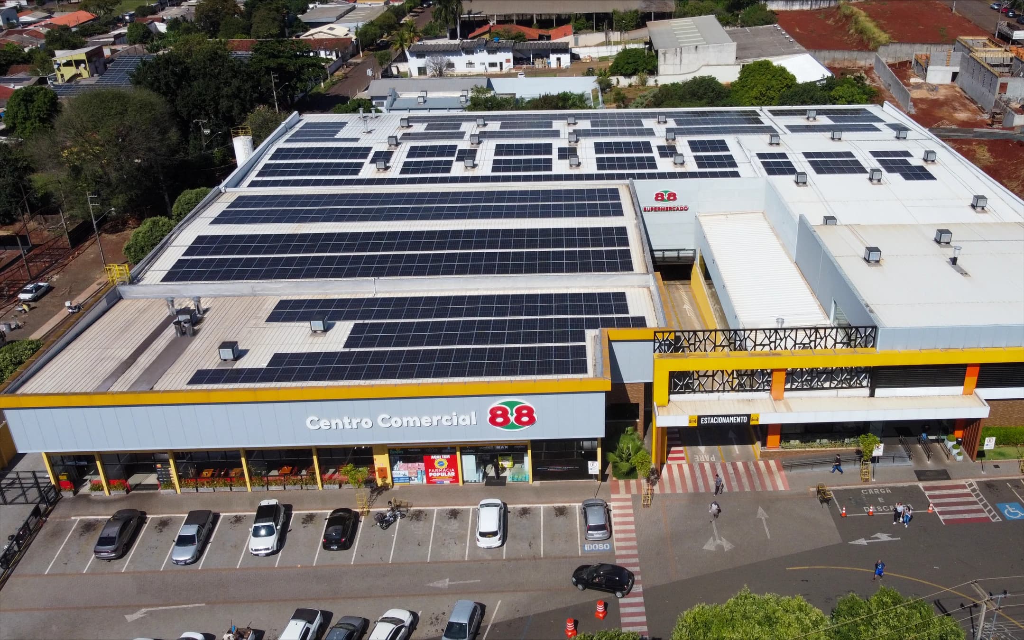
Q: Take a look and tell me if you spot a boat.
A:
No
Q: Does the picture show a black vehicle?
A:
Yes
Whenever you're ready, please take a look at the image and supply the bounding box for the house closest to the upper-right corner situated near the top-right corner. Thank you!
[911,36,1024,116]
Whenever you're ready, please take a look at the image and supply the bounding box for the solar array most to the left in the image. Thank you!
[54,56,255,99]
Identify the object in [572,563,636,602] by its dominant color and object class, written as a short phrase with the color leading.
black car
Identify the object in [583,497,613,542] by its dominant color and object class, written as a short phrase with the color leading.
gray car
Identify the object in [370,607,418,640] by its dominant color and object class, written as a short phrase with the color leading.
white car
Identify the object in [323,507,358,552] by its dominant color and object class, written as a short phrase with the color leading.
black car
